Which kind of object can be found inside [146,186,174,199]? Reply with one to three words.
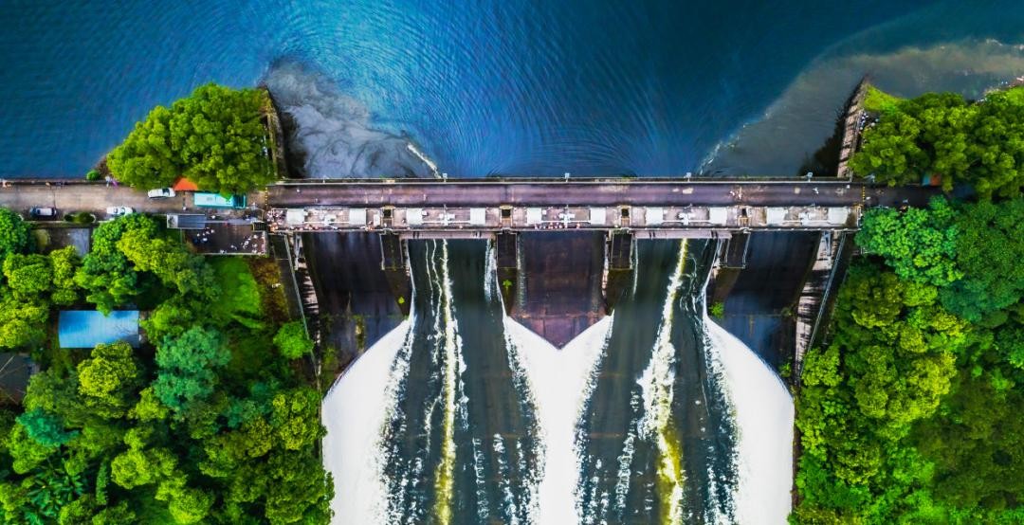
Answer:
vehicle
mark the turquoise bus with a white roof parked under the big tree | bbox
[187,192,244,208]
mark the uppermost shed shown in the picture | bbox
[162,214,207,229]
